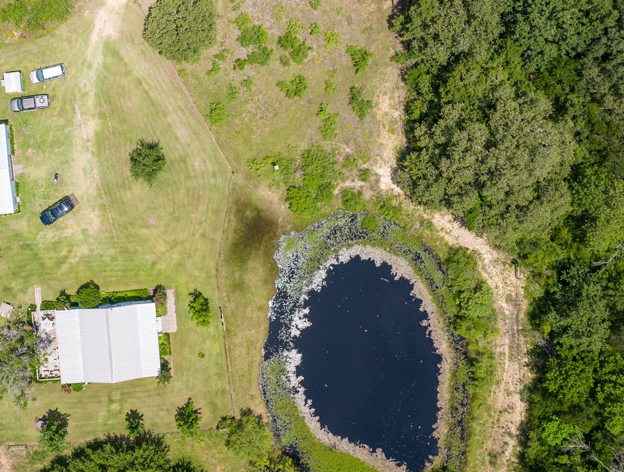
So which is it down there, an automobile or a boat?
automobile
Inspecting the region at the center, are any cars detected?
No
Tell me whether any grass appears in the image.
Yes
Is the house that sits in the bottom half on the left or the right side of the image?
left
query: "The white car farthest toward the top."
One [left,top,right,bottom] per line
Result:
[30,65,68,83]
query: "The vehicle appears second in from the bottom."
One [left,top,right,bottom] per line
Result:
[9,95,52,113]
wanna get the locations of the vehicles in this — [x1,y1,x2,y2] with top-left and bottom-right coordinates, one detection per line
[9,95,52,113]
[30,65,68,83]
[41,193,81,226]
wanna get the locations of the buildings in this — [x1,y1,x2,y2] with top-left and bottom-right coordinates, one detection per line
[3,72,25,94]
[0,124,17,215]
[54,302,160,384]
